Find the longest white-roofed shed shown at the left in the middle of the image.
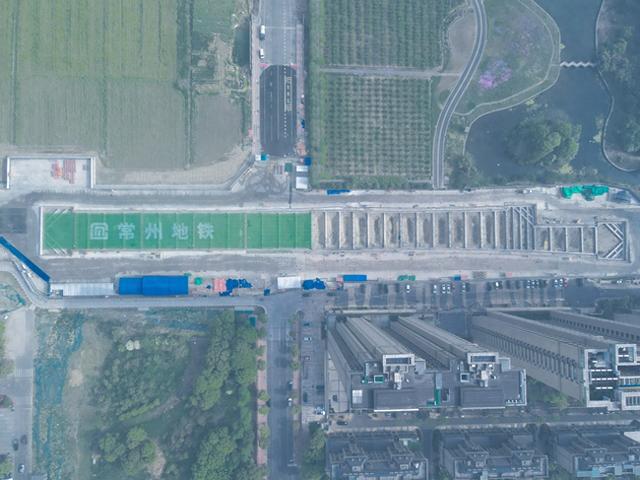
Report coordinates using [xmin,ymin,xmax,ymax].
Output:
[49,283,116,296]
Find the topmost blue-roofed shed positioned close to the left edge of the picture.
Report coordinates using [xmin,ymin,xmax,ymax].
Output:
[0,233,54,282]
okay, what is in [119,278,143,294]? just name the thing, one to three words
shed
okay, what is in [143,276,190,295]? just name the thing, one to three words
shed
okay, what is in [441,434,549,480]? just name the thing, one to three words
building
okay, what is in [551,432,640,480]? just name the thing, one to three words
building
